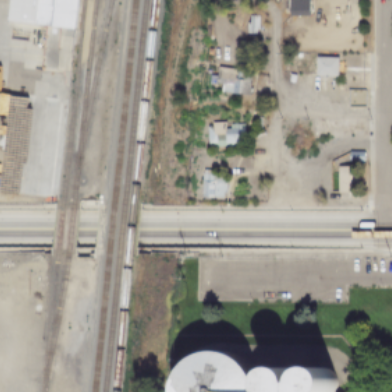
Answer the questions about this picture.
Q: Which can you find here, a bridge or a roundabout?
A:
bridge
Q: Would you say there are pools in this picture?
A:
No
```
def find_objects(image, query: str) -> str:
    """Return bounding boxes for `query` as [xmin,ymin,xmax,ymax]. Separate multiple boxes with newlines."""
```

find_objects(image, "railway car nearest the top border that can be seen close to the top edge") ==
[150,0,163,30]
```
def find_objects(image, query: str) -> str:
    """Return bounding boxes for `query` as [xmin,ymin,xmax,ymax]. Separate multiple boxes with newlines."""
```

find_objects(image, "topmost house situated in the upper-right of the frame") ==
[290,0,312,15]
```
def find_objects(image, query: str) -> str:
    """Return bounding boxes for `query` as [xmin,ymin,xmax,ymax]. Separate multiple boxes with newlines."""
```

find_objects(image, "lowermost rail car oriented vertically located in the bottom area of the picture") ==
[114,347,126,389]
